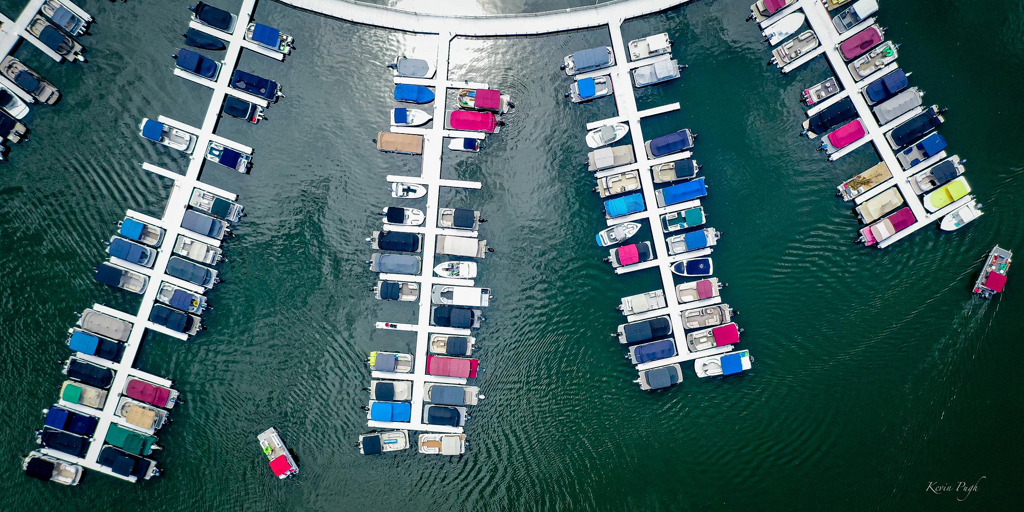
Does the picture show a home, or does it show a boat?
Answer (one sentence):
There is a boat in the scene.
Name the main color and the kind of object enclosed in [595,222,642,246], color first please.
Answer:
white boat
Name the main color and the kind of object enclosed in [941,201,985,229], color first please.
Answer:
white boat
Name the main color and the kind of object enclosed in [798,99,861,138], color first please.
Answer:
black boat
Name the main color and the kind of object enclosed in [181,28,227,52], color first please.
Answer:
black boat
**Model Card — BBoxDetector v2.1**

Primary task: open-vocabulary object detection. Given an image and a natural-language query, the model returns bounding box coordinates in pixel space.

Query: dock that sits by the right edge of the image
[757,0,974,250]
